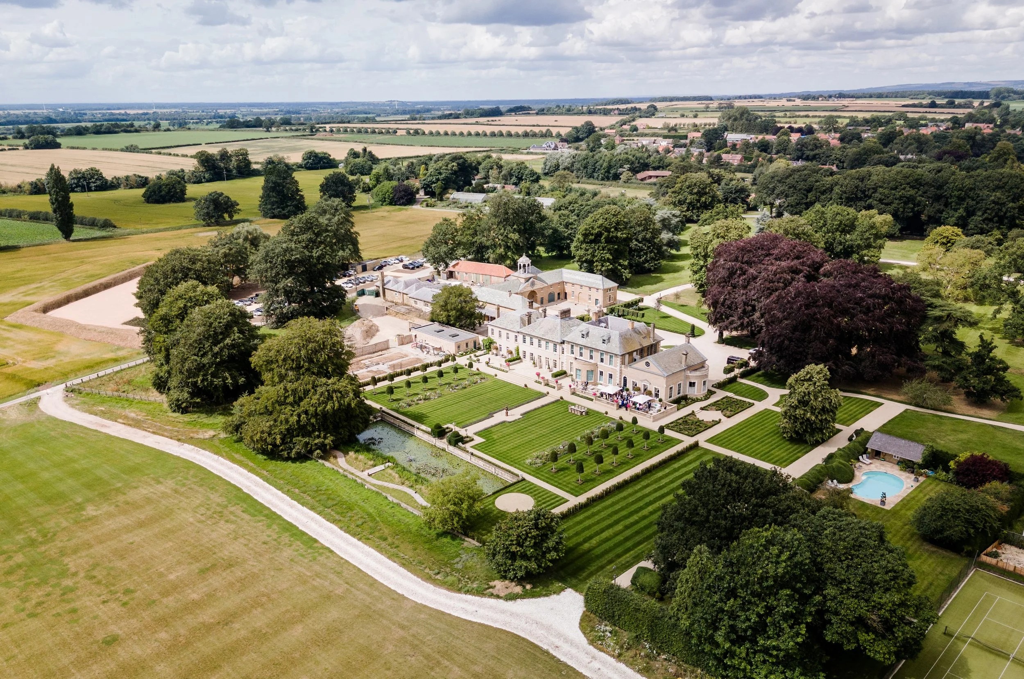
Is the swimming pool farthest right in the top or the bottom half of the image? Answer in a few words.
bottom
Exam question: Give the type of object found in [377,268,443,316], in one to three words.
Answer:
shed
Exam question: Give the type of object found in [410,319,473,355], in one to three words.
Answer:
shed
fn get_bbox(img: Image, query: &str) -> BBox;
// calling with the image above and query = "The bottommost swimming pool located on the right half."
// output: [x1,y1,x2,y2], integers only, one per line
[850,470,906,500]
